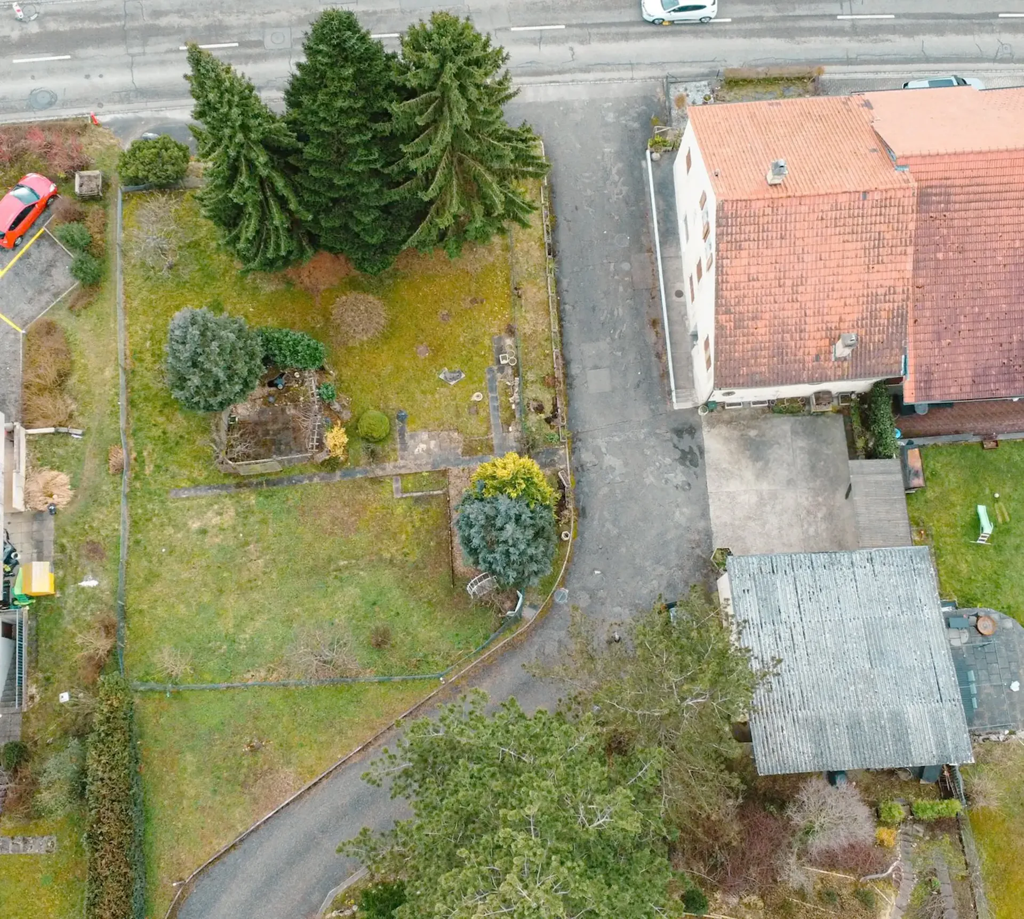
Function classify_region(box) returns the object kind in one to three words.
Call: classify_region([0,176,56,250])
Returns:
car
